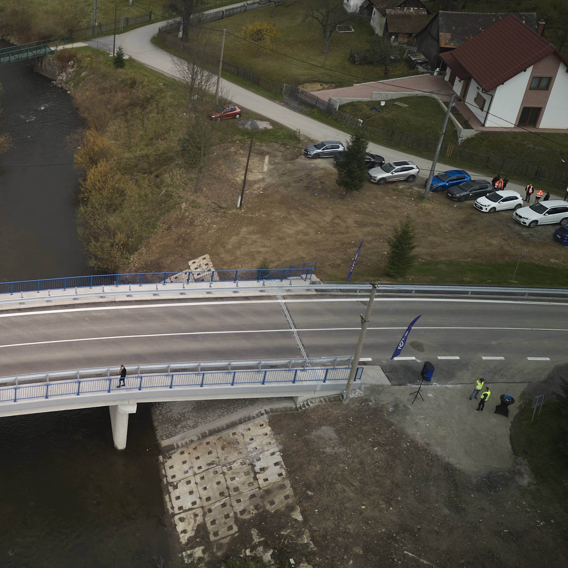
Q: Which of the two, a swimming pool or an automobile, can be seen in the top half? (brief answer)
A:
automobile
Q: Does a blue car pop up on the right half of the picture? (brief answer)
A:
Yes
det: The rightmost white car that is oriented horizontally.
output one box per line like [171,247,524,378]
[513,199,568,228]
